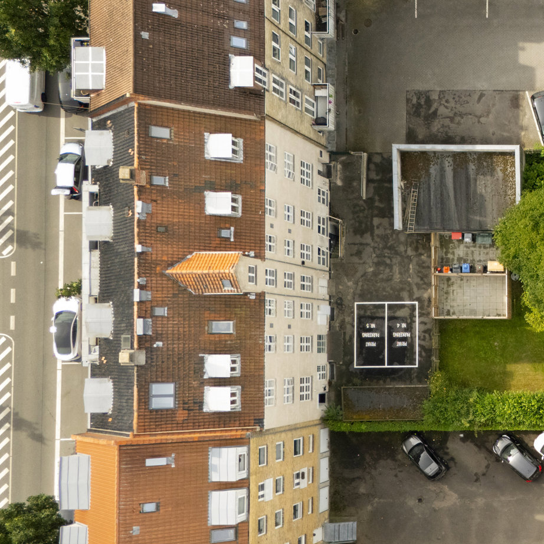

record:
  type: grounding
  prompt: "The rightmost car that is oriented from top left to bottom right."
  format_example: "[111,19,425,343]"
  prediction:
[493,432,543,484]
